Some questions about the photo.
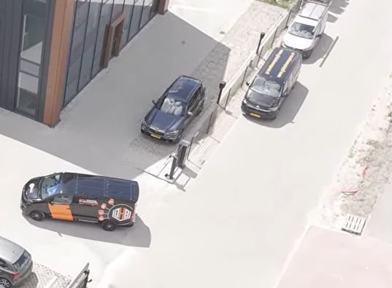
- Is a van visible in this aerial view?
Yes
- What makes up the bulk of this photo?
paved ground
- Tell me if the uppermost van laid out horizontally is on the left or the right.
left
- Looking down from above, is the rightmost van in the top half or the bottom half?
top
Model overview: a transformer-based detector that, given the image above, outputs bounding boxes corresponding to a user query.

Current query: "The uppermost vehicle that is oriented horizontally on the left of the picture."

[17,166,141,229]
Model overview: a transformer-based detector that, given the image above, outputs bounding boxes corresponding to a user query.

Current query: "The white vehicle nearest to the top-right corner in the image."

[280,0,334,56]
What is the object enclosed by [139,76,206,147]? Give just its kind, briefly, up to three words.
car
